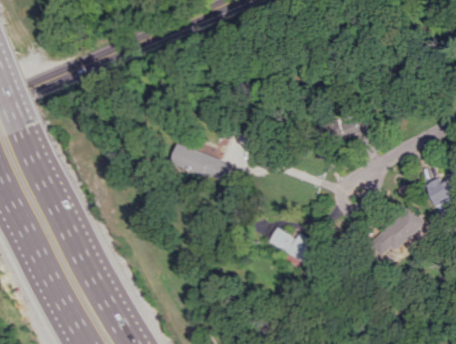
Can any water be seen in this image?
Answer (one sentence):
No, there's no water in this view.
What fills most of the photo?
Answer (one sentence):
For the most part, this view shows trees.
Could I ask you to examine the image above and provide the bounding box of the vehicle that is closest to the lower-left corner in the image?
[116,314,136,344]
